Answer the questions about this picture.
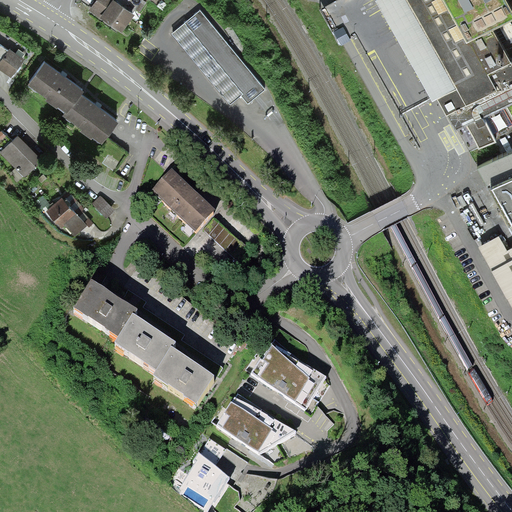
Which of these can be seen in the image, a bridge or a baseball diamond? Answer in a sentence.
The image shows a bridge.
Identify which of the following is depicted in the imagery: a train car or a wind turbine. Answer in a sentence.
I can see a train car in this picture.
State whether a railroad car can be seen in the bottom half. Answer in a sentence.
Yes, the scene does show a railroad car in the bottom half.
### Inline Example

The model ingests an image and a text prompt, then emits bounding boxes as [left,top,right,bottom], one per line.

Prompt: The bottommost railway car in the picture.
[468,369,490,403]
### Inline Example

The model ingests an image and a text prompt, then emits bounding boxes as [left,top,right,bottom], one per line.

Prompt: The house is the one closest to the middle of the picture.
[152,168,214,233]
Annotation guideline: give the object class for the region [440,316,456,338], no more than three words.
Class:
rail car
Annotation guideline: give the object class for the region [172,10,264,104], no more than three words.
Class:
shed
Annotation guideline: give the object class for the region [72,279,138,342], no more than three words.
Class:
building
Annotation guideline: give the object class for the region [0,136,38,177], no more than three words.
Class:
house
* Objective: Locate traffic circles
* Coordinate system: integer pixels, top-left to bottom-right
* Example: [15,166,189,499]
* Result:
[282,213,354,284]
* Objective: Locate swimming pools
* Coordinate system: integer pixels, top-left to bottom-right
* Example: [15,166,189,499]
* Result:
[184,486,209,508]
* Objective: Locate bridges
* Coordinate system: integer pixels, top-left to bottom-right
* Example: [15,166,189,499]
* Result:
[347,192,425,250]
